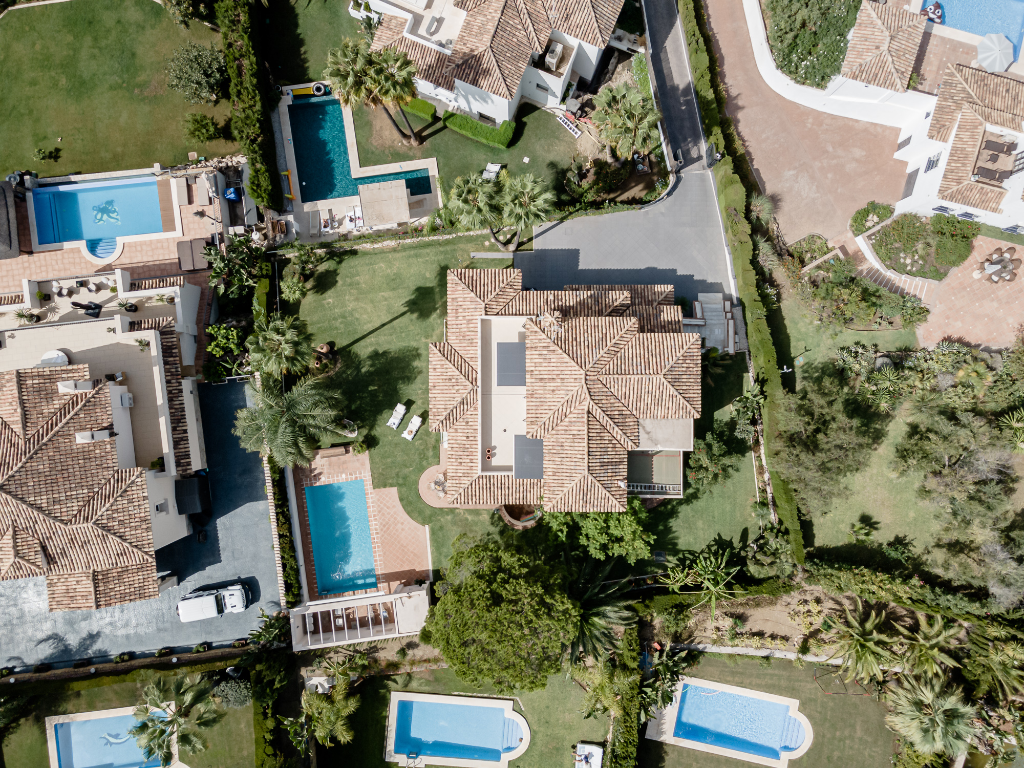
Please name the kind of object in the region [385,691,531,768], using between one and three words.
swimming pool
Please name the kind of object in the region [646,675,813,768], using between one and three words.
swimming pool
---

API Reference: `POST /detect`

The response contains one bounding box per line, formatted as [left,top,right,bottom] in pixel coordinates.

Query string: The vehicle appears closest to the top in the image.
[562,93,593,122]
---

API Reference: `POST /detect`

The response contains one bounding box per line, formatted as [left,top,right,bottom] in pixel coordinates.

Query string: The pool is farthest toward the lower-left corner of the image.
[45,706,190,768]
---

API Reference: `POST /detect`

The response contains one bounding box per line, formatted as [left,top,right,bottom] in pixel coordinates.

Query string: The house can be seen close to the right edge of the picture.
[808,0,1024,246]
